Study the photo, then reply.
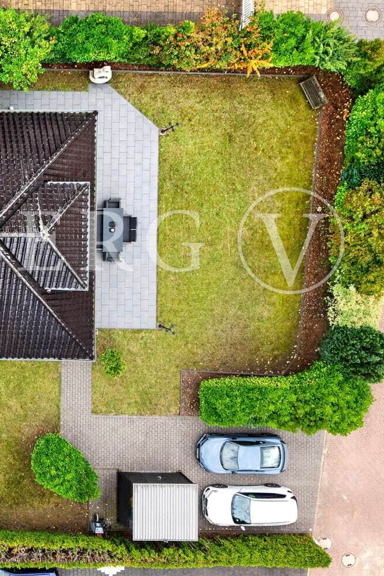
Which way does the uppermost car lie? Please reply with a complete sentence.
The uppermost car is oriented horizontally.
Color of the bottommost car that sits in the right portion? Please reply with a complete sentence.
From above, the bottommost car that sits in the right portion appears white.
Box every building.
[117,472,198,544]
[0,107,100,362]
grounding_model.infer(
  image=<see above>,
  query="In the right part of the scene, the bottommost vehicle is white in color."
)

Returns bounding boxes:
[201,485,298,531]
